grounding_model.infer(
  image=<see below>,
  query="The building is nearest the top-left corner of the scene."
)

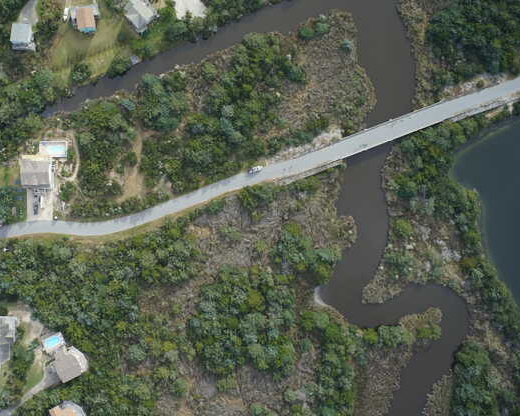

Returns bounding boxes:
[11,24,35,51]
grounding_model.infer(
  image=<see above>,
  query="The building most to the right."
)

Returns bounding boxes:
[123,0,158,33]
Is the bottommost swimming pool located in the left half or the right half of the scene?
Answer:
left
